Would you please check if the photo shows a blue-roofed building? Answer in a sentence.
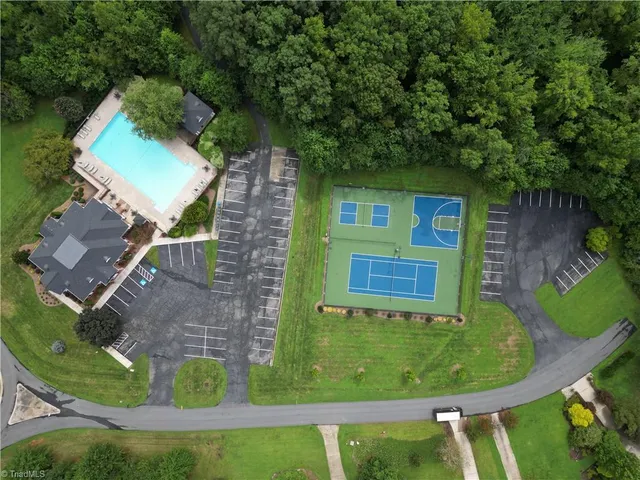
No, the scene contains no blue-roofed building.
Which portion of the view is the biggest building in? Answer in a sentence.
The biggest building is in the left part of the image.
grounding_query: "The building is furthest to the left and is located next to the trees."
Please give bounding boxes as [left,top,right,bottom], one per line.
[28,197,135,303]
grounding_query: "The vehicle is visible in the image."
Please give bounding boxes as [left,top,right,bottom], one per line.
[434,408,462,422]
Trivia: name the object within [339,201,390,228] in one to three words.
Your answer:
sports court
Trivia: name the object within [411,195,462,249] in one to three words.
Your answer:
basketball court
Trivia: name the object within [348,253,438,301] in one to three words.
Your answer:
tennis court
